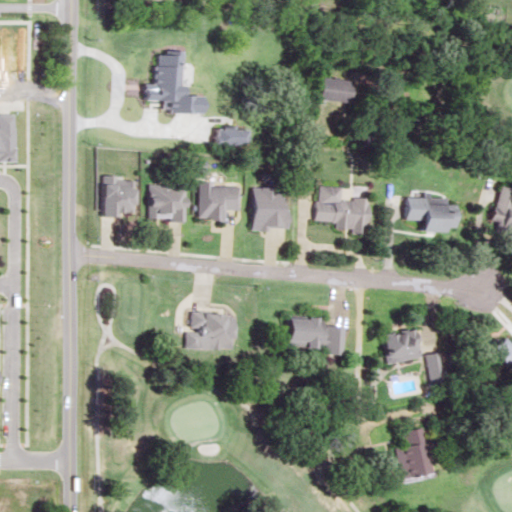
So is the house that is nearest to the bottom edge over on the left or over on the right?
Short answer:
right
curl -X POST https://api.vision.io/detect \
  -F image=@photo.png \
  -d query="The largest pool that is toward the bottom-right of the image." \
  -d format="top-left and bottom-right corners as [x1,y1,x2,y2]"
[388,376,422,400]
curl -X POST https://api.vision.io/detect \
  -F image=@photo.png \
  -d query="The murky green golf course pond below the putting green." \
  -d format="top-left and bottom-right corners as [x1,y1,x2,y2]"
[129,460,264,512]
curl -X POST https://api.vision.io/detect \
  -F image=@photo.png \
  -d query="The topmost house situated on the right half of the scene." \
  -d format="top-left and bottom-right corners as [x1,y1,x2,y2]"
[324,78,357,104]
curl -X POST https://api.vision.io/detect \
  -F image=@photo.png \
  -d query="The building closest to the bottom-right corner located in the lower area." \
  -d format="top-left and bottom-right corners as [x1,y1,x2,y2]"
[396,428,437,486]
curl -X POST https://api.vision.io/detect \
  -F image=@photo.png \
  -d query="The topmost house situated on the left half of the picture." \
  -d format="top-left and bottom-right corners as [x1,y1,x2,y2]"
[145,50,209,113]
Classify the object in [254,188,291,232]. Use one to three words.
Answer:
house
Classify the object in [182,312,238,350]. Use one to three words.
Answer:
house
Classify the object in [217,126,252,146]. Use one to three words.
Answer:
shed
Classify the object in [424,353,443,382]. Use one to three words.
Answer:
building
